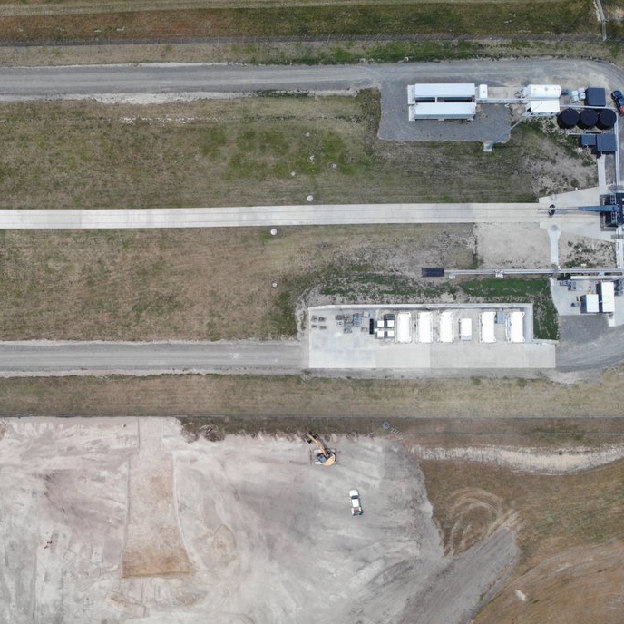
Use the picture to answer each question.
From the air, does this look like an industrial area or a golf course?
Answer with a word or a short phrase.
industrial area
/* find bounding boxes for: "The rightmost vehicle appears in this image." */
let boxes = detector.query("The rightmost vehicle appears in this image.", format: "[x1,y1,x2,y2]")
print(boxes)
[610,90,624,116]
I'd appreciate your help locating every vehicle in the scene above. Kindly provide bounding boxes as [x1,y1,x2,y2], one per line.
[350,489,361,516]
[610,90,624,116]
[304,431,336,467]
